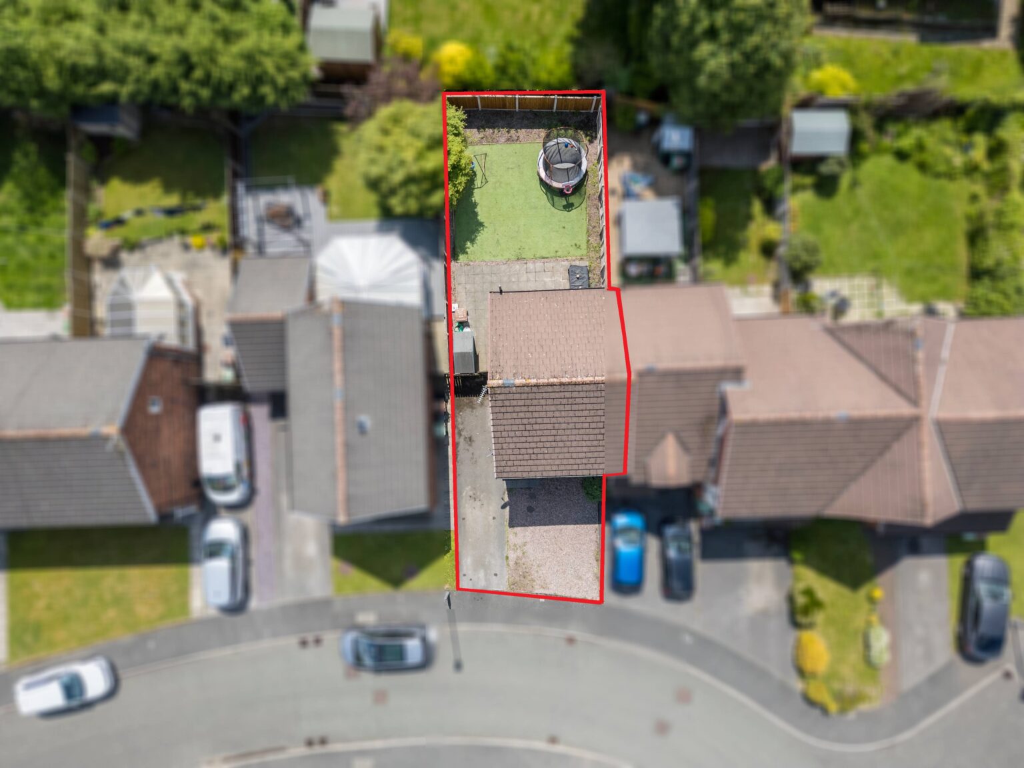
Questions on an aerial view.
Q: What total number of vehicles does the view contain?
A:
7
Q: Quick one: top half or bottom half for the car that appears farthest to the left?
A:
bottom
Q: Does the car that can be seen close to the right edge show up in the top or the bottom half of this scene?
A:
bottom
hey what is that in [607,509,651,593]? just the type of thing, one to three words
car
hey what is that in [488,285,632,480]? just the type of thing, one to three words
house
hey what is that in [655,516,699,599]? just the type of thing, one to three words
car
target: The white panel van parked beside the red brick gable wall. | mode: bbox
[201,407,253,509]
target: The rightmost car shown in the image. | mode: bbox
[952,552,1012,659]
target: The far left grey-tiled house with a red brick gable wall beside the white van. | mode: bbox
[0,334,205,530]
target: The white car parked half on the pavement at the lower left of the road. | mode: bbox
[14,655,118,714]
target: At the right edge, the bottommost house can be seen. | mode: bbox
[689,311,1024,529]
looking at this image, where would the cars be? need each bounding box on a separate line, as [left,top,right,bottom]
[655,516,699,599]
[607,509,651,593]
[952,552,1012,659]
[199,517,249,613]
[341,624,437,673]
[14,655,118,714]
